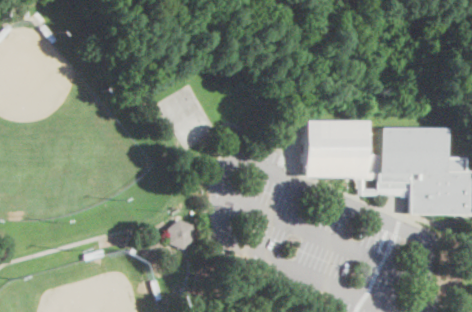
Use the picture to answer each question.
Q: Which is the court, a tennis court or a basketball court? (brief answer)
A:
basketball court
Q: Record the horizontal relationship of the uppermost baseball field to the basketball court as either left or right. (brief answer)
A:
to the left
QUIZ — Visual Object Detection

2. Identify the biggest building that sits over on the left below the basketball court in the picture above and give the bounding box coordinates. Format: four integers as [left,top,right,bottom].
[168,222,194,248]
